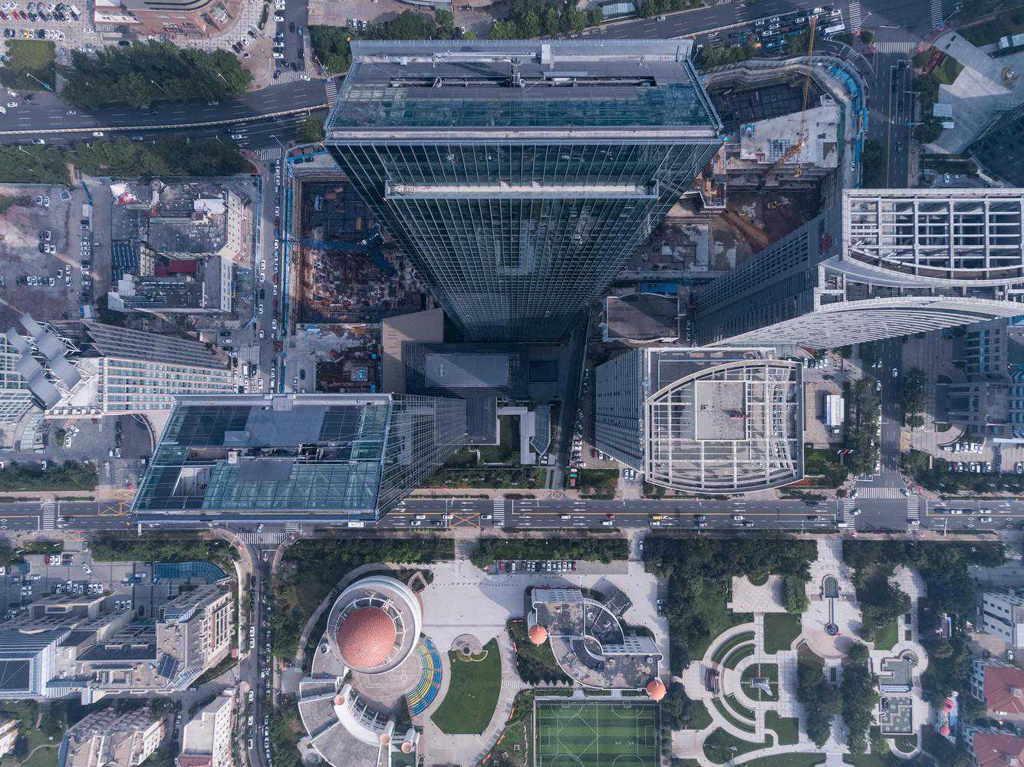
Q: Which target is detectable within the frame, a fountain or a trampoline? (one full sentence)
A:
Looking from above, you can make out a fountain.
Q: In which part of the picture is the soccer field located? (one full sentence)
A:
Look in the bottom portion of the view to spot the soccer field.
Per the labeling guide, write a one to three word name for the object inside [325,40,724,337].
building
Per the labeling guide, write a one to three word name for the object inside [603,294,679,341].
building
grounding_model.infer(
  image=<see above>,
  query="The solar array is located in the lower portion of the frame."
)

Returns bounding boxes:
[159,651,185,680]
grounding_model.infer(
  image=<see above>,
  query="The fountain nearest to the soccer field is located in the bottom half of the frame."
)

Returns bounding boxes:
[452,631,488,662]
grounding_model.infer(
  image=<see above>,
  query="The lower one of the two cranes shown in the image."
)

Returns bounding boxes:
[277,230,400,279]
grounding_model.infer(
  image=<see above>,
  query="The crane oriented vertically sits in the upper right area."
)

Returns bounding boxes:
[761,16,817,173]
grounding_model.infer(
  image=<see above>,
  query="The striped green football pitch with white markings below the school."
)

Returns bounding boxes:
[533,700,661,767]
